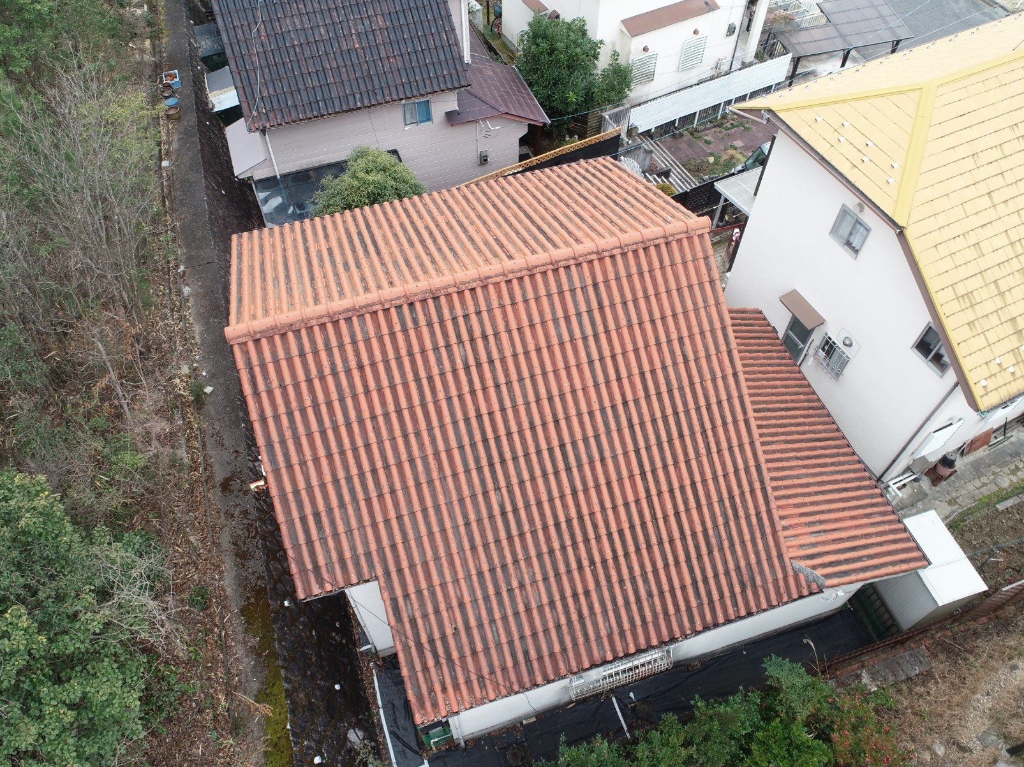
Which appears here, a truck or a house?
house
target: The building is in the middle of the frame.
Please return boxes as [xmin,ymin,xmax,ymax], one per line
[221,155,925,747]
